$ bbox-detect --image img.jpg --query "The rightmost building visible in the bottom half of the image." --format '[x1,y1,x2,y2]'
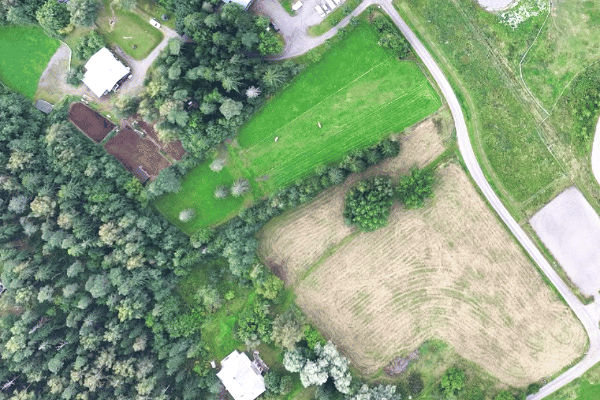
[216,355,269,400]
